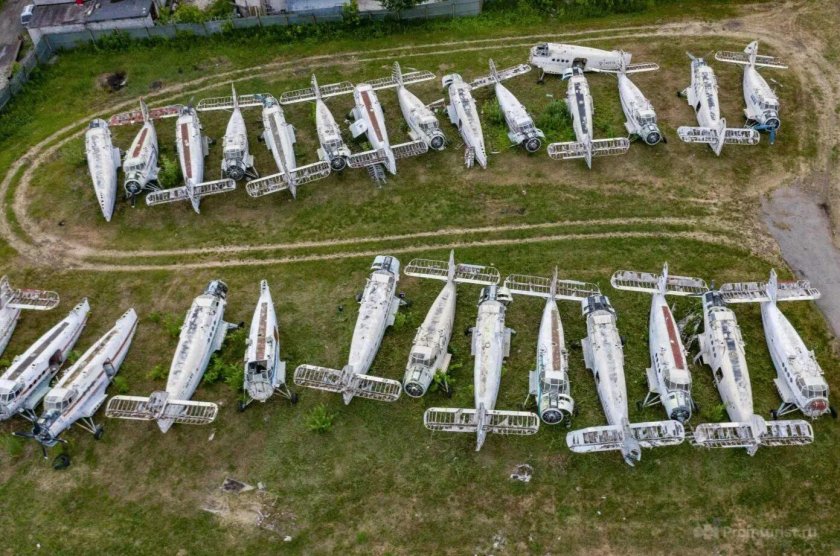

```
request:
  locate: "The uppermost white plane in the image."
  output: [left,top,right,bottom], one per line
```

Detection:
[532,42,631,89]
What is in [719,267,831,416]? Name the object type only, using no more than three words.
airplane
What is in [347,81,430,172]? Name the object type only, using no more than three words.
airplane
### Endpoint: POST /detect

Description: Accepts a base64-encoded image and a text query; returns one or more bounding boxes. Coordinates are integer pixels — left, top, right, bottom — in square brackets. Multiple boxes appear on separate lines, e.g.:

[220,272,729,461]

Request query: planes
[609,261,707,416]
[0,277,62,353]
[197,84,275,182]
[501,264,601,423]
[546,67,631,164]
[719,267,831,416]
[532,42,631,89]
[347,81,430,172]
[107,95,186,203]
[148,98,237,207]
[461,57,546,157]
[84,119,129,224]
[398,248,500,395]
[280,75,358,174]
[568,294,687,458]
[369,62,450,156]
[436,75,487,171]
[19,304,142,444]
[294,255,409,408]
[673,53,760,150]
[423,284,540,445]
[112,286,244,446]
[238,280,296,408]
[714,42,788,140]
[680,286,813,456]
[247,97,332,197]
[585,49,664,144]
[0,291,95,411]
